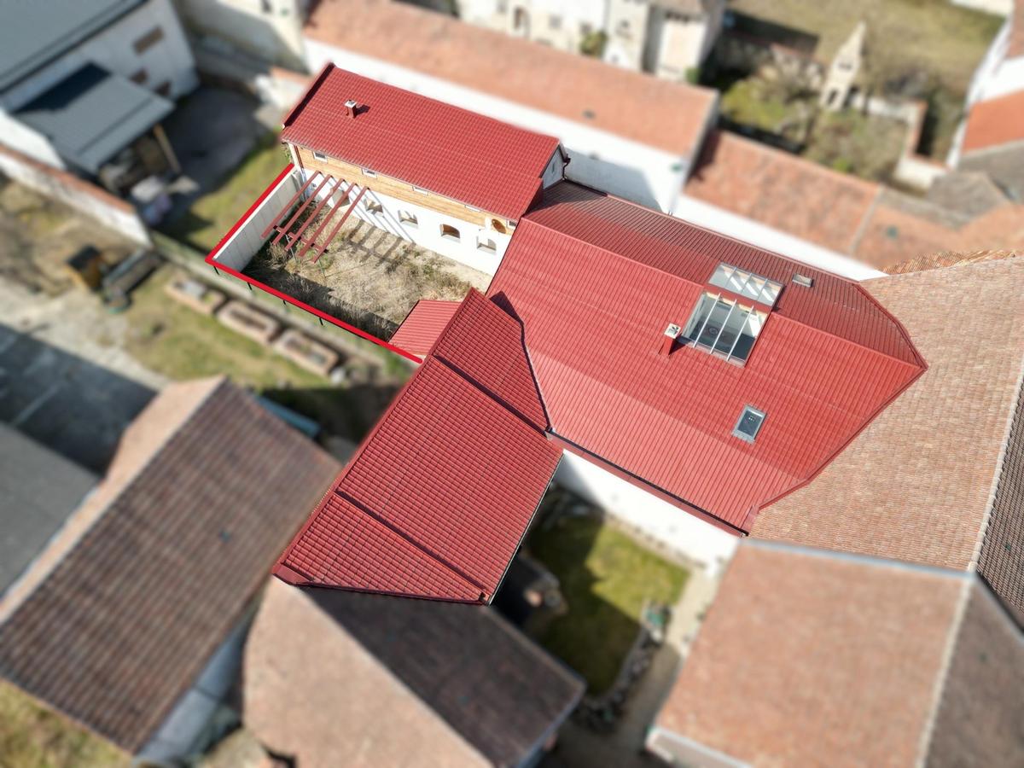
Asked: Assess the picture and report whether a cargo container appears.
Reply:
No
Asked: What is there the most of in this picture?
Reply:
buildings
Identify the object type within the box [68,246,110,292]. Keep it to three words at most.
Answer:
shed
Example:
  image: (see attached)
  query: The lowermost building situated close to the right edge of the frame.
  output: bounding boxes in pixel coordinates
[644,539,1024,768]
